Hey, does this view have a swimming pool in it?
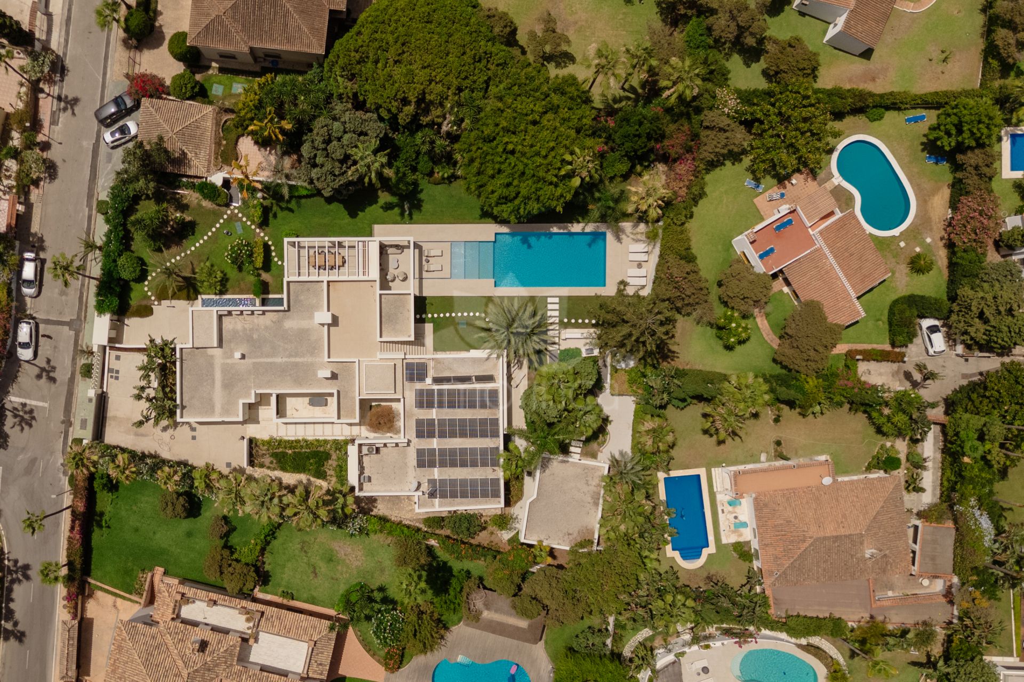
Yes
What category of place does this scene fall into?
residential area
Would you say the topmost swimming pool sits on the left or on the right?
right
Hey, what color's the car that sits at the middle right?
white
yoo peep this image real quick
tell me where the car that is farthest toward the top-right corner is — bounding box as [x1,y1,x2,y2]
[917,319,945,359]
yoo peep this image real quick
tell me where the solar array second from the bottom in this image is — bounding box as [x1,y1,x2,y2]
[417,448,499,468]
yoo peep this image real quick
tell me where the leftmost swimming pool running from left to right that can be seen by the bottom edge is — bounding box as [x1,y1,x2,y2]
[433,659,531,682]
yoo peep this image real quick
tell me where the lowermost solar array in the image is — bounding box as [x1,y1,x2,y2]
[428,479,499,498]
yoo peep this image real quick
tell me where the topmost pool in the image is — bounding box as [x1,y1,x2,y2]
[1001,126,1024,179]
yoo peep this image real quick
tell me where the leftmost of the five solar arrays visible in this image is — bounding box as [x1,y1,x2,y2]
[406,362,426,382]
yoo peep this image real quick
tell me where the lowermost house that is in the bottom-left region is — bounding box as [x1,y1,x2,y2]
[105,567,339,682]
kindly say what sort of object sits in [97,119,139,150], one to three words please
car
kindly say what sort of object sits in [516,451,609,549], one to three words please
building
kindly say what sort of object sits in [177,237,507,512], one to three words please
house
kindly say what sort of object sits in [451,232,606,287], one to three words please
swimming pool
